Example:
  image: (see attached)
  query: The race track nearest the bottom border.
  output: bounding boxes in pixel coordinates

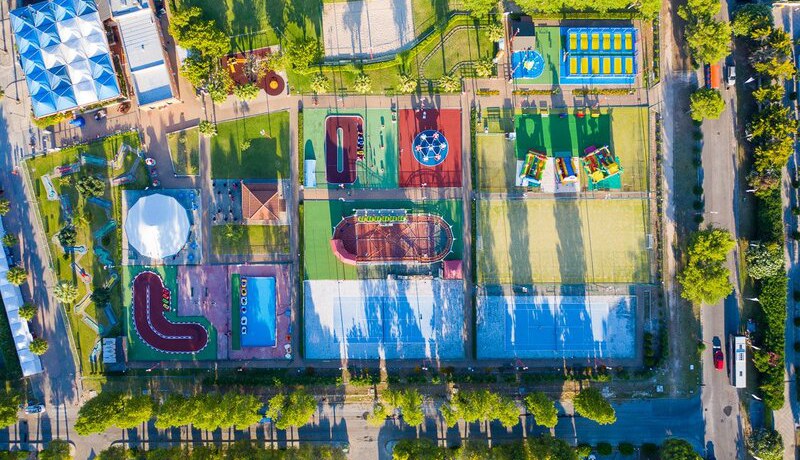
[127,266,216,360]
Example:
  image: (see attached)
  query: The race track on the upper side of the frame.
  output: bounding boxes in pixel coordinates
[303,108,398,188]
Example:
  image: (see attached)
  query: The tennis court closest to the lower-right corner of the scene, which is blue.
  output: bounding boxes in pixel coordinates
[477,295,637,358]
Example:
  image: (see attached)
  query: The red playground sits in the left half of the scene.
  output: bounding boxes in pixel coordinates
[228,48,283,94]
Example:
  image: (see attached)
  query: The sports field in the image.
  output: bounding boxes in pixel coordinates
[477,198,650,284]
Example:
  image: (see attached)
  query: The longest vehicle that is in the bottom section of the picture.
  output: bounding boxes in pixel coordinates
[728,336,748,392]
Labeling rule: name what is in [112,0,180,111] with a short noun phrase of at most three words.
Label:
building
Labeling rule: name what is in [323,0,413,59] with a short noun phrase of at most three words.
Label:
sports court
